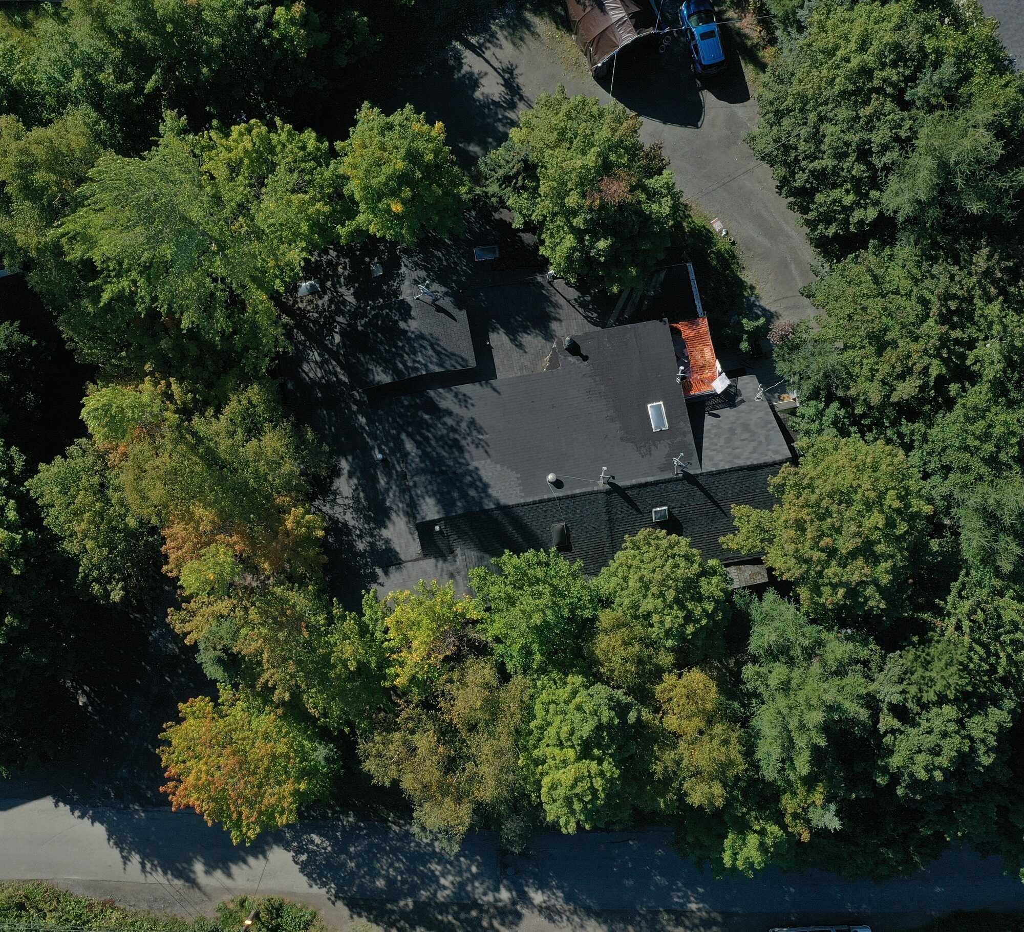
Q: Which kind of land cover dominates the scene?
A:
trees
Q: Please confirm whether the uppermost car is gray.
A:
No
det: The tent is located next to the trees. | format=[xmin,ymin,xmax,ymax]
[567,0,688,82]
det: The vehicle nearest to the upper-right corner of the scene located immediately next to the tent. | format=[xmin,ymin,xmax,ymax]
[678,2,726,86]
